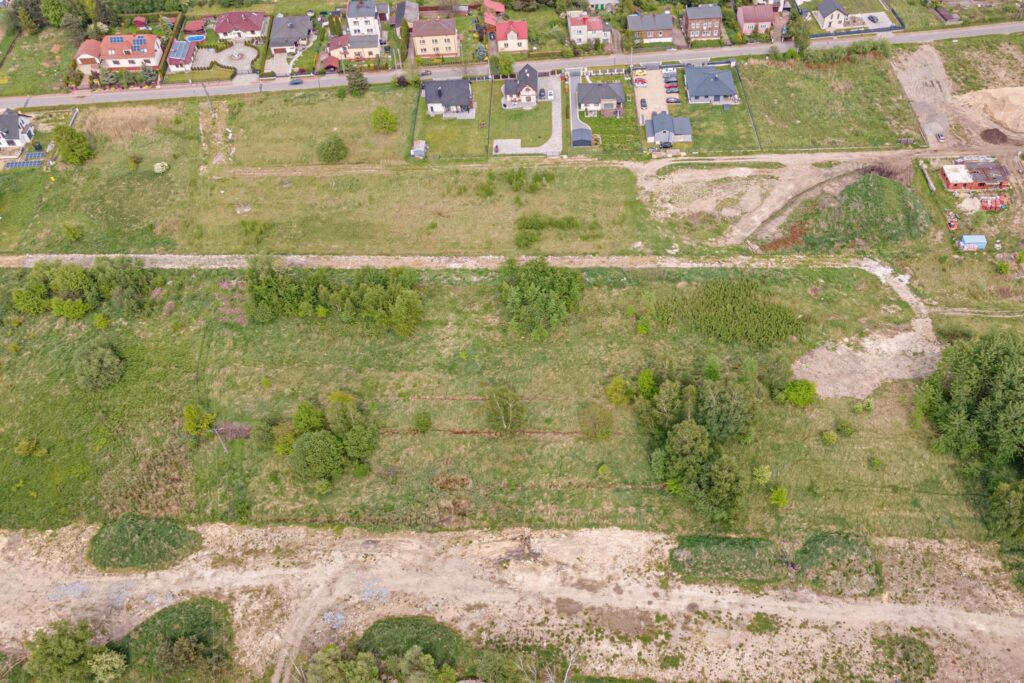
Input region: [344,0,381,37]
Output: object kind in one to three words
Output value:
house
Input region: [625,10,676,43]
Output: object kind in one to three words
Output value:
house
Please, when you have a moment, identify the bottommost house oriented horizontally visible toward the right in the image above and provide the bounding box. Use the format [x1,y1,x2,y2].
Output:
[939,158,1015,192]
